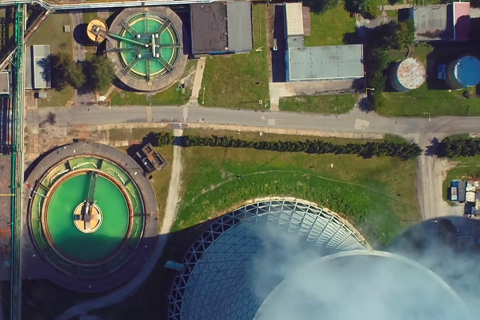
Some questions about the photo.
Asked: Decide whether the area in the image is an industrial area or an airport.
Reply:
industrial area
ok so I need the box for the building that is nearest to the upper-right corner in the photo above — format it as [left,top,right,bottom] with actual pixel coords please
[449,1,470,41]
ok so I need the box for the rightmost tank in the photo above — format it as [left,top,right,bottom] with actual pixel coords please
[446,56,480,88]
